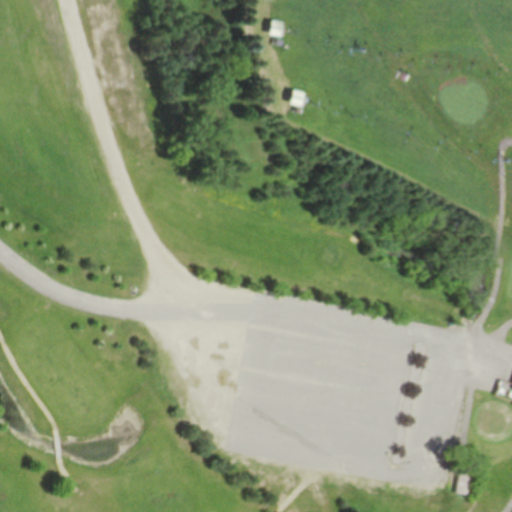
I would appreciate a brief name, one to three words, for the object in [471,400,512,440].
sports field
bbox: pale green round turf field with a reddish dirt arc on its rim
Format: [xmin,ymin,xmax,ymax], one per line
[438,76,488,125]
